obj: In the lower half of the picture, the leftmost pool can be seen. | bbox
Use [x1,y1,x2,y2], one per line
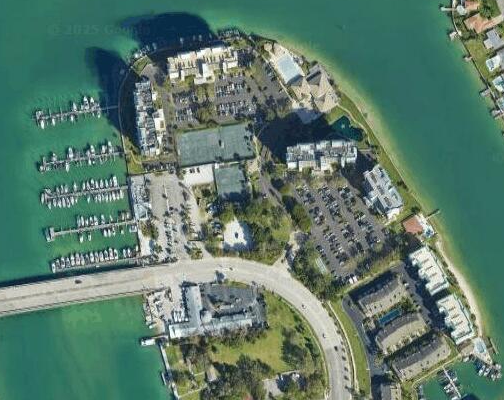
[375,307,404,327]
